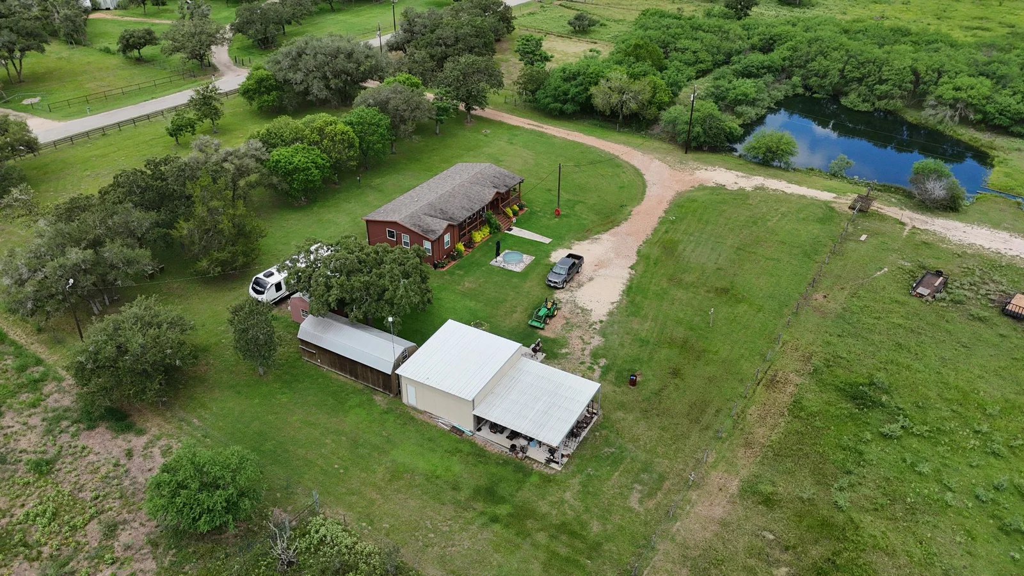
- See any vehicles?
Yes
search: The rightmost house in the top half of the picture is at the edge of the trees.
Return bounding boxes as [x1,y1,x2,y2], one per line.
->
[361,162,522,261]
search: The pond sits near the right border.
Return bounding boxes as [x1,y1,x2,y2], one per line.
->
[729,98,1024,202]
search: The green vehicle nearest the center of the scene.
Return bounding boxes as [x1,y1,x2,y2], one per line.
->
[529,293,560,329]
